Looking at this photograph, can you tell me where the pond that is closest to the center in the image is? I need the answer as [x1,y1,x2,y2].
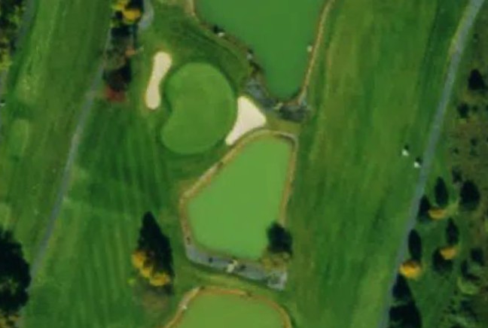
[182,132,299,265]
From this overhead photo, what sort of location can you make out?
golf course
